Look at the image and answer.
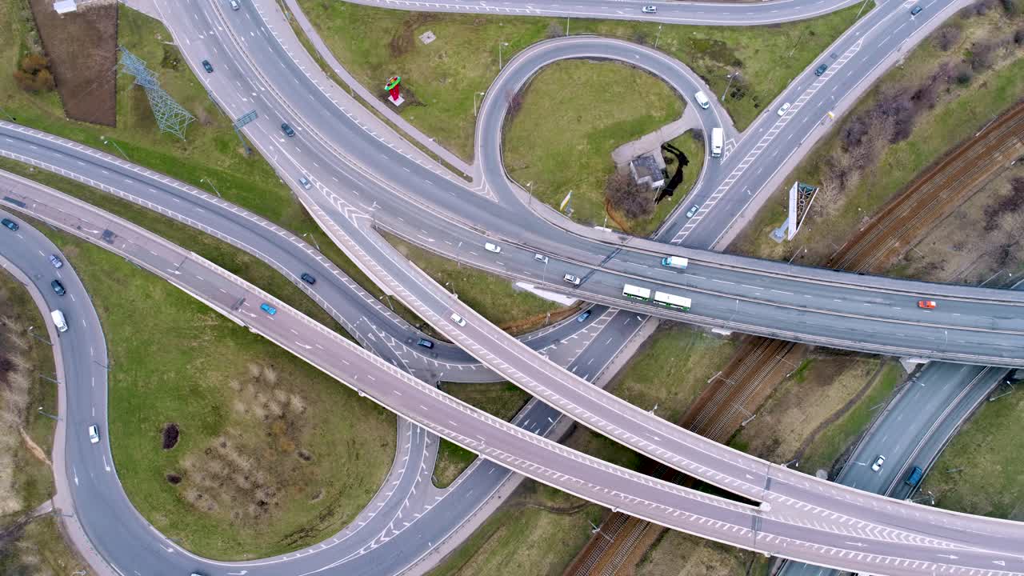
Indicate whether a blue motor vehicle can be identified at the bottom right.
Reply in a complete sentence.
Yes, the scene does show a blue motor vehicle at the bottom right.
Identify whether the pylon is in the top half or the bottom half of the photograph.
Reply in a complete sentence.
You can find the pylon in the top half.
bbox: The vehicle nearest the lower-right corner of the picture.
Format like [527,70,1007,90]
[904,466,922,487]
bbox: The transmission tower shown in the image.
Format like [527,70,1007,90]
[0,47,198,201]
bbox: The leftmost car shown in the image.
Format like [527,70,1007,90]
[1,218,18,230]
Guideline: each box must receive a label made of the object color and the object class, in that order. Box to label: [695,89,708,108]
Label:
white vehicle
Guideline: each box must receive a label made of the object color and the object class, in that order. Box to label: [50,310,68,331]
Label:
white vehicle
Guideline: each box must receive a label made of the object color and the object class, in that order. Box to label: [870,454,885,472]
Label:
white car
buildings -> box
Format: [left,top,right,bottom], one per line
[631,155,663,192]
[54,0,81,20]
